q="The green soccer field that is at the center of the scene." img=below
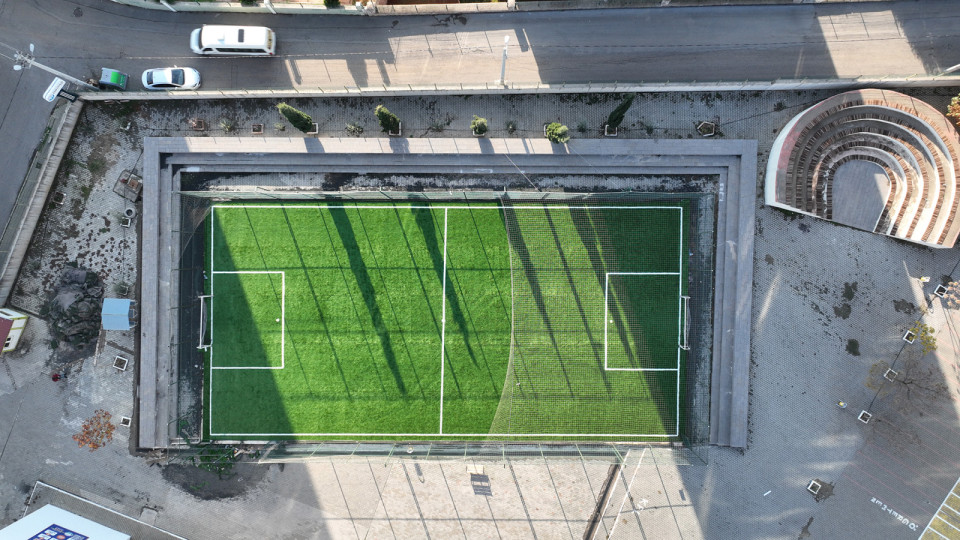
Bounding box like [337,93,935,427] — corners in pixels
[203,199,687,445]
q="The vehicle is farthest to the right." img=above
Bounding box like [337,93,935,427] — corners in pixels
[190,25,277,60]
